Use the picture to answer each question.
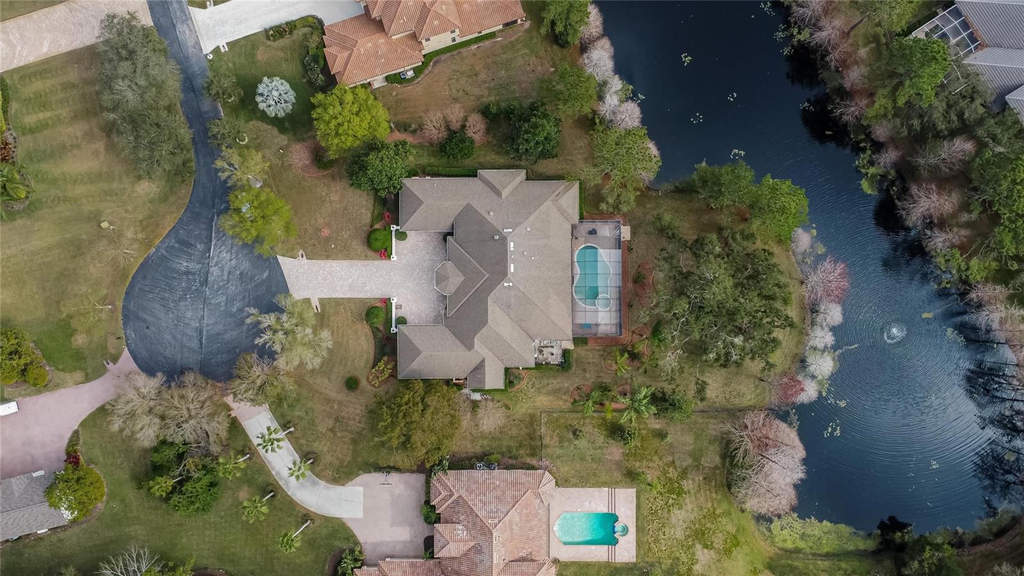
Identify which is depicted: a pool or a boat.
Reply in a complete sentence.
This aerial view contains a pool.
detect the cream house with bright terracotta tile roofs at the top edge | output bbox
[323,0,525,88]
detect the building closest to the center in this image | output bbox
[397,169,579,389]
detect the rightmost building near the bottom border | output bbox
[354,469,558,576]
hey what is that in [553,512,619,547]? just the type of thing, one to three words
swimming pool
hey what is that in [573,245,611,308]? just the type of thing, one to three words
swimming pool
